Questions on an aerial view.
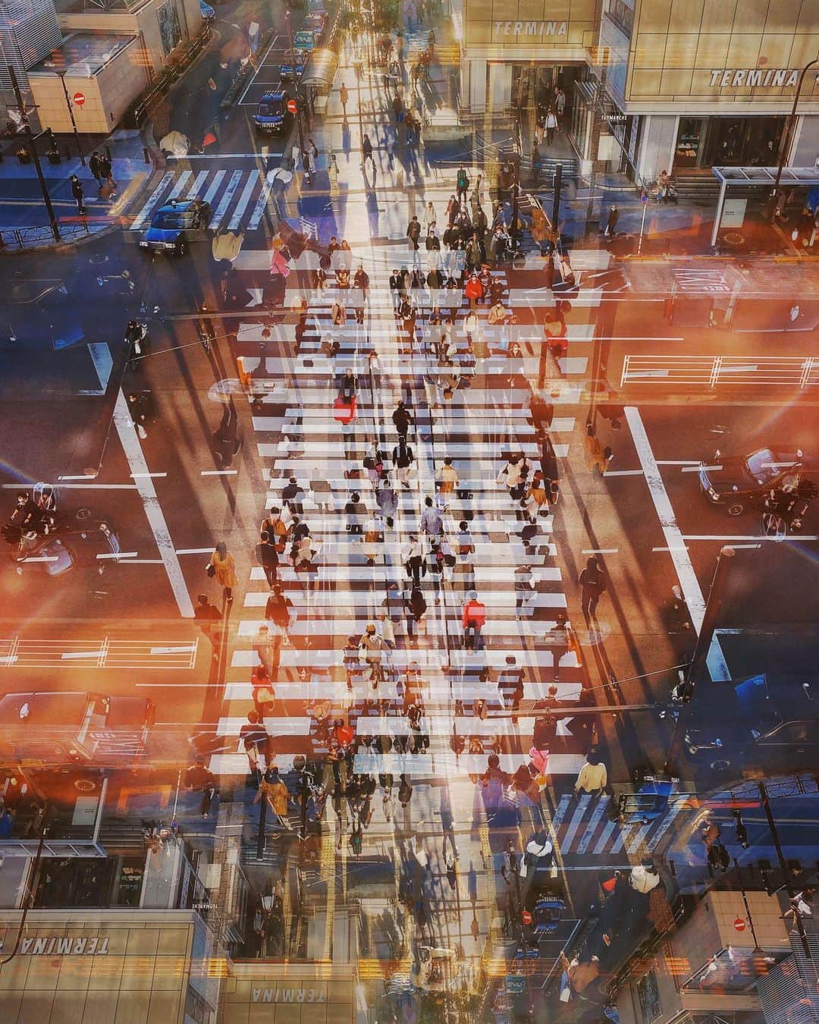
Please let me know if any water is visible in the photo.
No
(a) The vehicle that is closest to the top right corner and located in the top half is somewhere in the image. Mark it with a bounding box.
[673,239,819,327]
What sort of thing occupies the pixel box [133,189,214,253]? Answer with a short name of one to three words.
car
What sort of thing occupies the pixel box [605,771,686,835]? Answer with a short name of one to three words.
car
